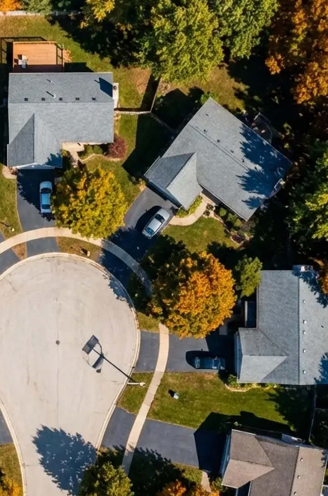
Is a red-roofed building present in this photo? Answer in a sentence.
No, no red-roofed building can be seen from above.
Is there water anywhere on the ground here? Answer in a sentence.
No, no water is visible.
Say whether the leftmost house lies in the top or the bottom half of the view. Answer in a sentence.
Seen from above, the leftmost house lies in the top half of the view.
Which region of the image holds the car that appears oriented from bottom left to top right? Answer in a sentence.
You can find the car that appears oriented from bottom left to top right in the center area of the picture.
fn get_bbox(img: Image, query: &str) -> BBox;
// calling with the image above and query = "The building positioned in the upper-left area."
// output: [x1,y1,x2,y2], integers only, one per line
[6,72,120,169]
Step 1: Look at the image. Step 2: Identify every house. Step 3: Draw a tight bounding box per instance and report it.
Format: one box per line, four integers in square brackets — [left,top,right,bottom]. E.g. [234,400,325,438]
[218,424,328,496]
[143,97,291,222]
[6,72,120,169]
[233,263,328,386]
